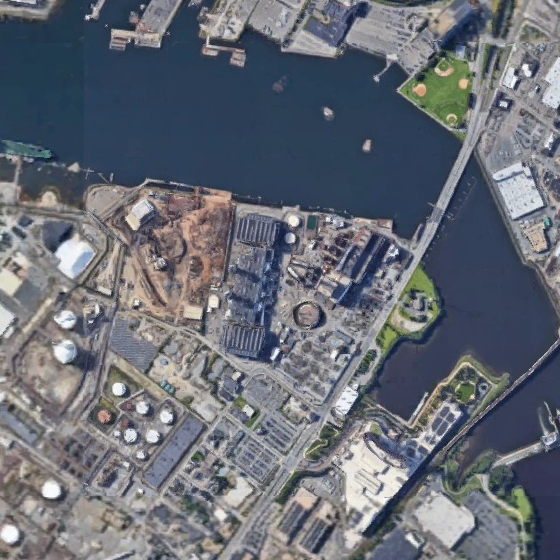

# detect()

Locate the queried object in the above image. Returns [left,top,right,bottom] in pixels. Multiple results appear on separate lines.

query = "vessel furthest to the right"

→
[229,50,245,67]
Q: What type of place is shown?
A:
port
